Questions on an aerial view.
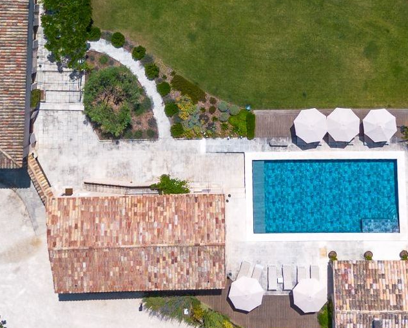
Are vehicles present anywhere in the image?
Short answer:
No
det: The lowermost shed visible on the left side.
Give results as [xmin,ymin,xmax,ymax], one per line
[45,184,227,294]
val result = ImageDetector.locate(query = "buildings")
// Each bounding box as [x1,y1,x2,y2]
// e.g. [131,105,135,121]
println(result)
[332,250,408,328]
[0,0,48,171]
[45,184,227,294]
